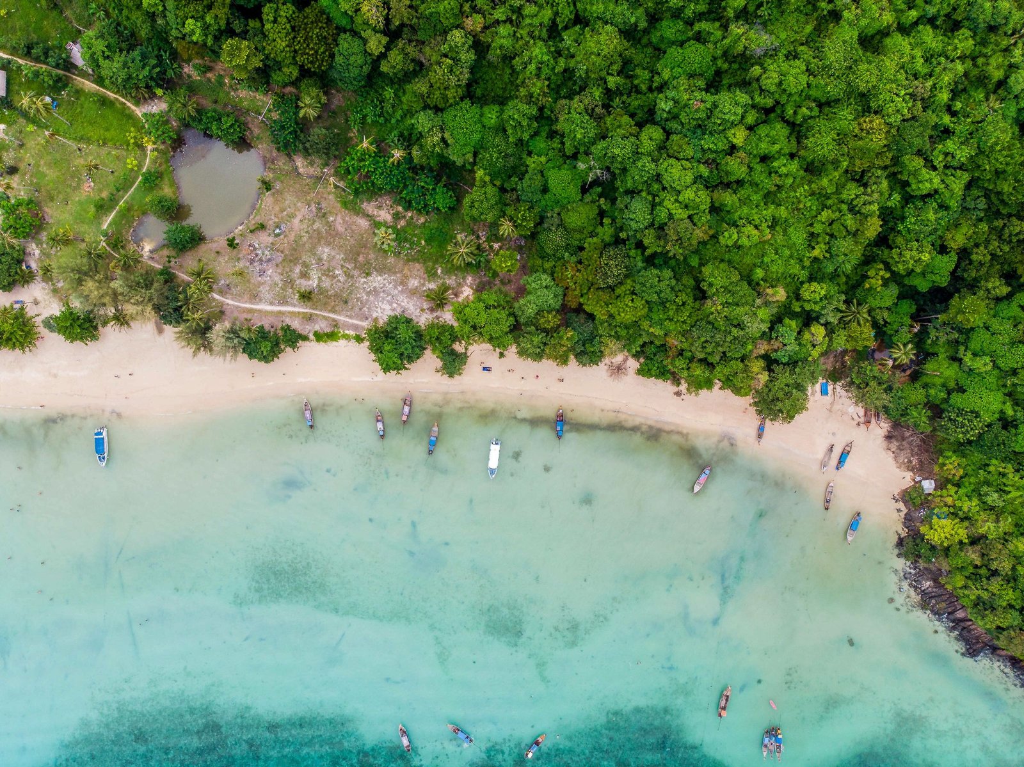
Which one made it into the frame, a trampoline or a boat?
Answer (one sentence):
Visible in the photo is a boat.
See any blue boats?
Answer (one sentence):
Yes, there's a blue boat down there.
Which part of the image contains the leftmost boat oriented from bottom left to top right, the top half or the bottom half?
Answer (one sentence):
You can find the leftmost boat oriented from bottom left to top right in the bottom half.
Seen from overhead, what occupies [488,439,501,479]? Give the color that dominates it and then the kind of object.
white boat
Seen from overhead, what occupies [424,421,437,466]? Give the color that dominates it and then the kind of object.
blue boat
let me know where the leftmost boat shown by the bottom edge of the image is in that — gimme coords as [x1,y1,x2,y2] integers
[398,725,415,761]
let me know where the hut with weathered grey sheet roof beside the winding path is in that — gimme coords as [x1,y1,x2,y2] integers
[66,43,91,68]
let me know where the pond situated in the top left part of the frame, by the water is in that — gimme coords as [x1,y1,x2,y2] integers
[133,128,267,252]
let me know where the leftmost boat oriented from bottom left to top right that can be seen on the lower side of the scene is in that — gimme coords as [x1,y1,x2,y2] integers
[524,736,546,760]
